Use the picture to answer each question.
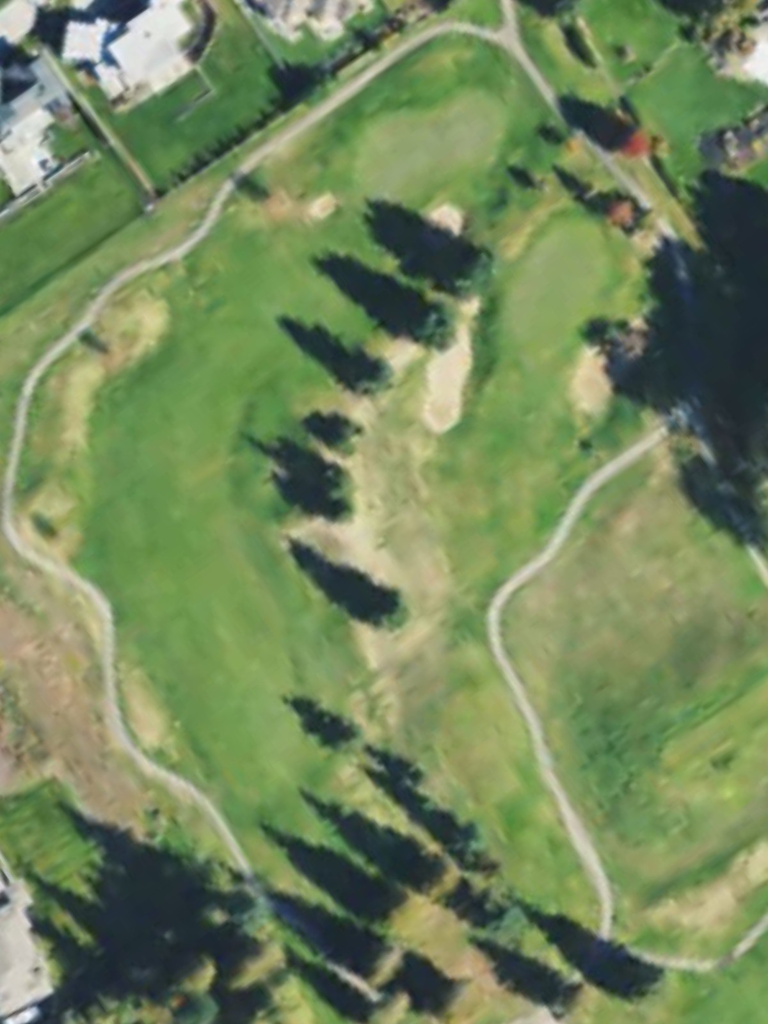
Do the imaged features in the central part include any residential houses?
No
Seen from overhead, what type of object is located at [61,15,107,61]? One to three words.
house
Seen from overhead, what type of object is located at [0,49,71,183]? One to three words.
house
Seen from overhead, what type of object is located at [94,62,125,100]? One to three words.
shed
